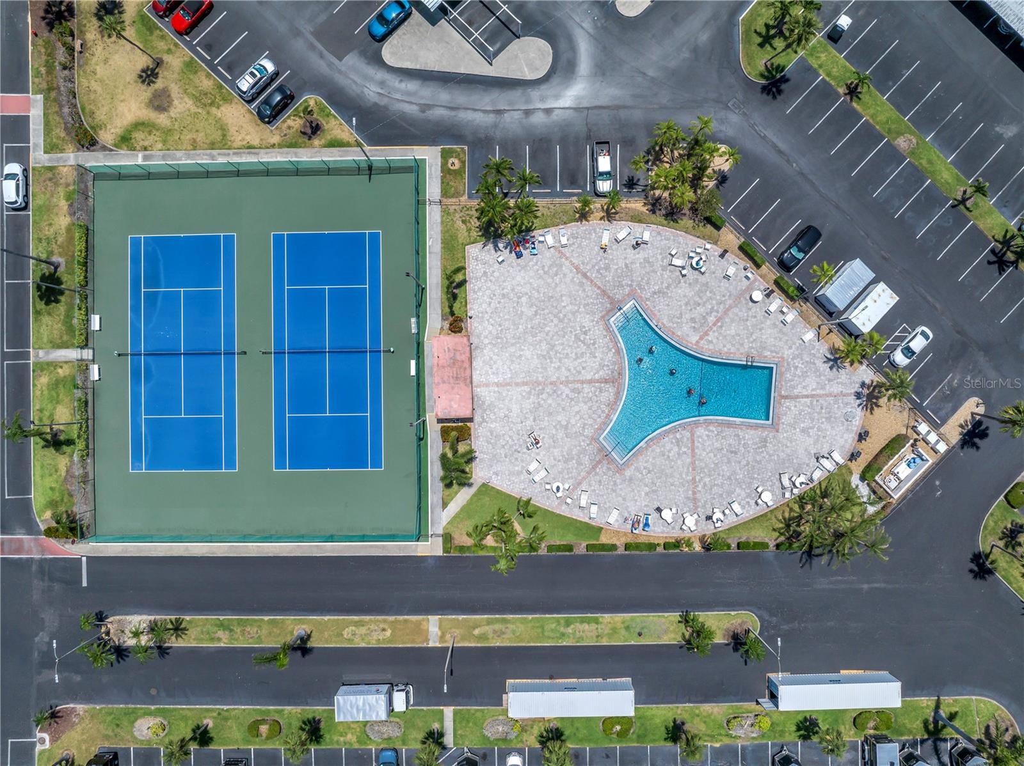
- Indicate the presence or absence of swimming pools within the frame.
Yes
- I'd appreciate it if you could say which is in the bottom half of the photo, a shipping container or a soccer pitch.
shipping container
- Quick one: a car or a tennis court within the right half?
car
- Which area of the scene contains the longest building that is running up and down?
center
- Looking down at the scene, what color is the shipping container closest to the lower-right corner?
white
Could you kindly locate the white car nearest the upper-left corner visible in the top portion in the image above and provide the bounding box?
[1,162,28,208]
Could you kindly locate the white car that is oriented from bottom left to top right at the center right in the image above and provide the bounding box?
[888,323,934,368]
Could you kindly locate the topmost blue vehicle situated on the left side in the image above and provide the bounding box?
[368,0,414,42]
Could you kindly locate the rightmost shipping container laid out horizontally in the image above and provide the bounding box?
[761,672,901,711]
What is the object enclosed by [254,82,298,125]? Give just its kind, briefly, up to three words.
car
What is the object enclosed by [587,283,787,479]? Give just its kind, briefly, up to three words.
swimming pool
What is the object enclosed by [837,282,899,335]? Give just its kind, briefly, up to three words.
shipping container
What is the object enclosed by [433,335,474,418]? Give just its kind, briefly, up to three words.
building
